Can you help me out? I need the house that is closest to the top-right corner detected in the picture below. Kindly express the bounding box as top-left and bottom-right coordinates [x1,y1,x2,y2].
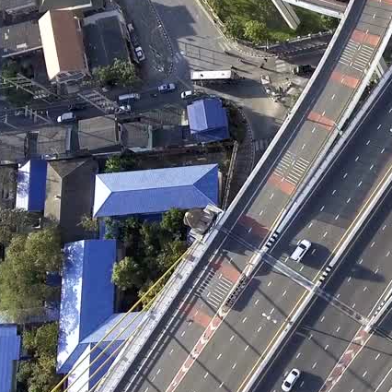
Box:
[187,97,239,143]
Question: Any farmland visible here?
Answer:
No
